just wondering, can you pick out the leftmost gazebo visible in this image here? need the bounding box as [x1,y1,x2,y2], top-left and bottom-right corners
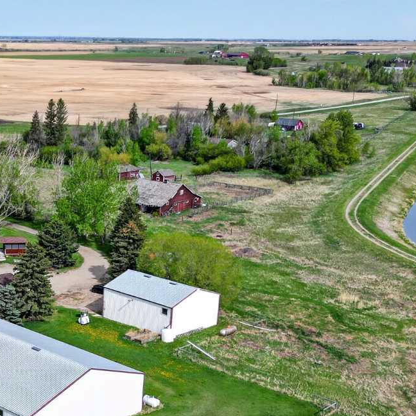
[0,235,30,255]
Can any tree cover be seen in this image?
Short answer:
Yes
